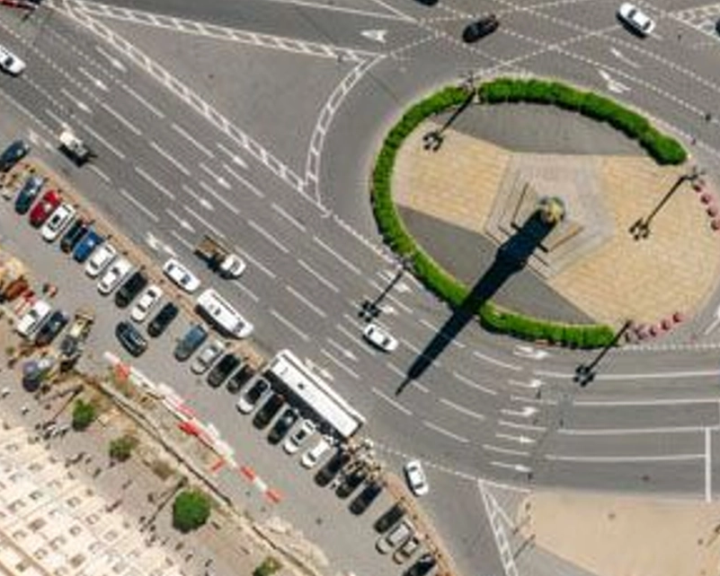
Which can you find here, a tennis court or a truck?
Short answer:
truck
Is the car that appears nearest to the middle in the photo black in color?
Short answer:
No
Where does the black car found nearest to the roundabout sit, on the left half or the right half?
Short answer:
right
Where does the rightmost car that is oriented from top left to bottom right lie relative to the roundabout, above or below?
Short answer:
above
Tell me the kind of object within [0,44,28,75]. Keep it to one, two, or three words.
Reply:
car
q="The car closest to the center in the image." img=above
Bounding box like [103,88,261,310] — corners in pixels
[362,322,400,351]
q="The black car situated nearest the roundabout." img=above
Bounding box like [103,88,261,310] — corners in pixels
[462,16,501,42]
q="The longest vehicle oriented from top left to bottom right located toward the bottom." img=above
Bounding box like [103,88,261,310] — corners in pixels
[264,341,370,441]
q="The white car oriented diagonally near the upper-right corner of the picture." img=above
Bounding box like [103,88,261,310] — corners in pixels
[618,3,654,36]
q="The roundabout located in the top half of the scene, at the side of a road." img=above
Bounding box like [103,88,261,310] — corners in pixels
[367,71,720,353]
